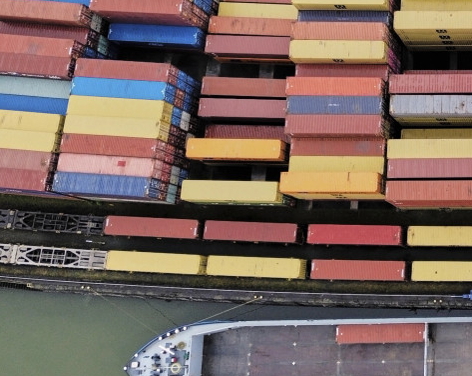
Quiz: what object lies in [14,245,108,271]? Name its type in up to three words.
rail car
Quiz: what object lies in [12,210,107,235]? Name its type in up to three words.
rail car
